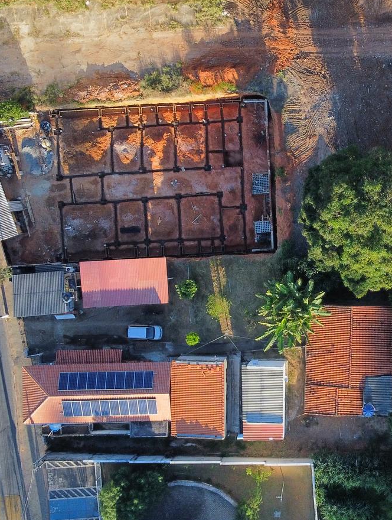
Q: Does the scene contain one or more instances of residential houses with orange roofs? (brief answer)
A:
Yes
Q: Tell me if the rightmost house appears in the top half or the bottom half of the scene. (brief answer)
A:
bottom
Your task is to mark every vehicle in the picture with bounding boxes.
[128,324,164,343]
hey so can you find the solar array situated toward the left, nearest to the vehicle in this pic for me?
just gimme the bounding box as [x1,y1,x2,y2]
[59,371,156,391]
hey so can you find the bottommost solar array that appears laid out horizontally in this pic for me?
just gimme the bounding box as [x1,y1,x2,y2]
[63,399,161,416]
